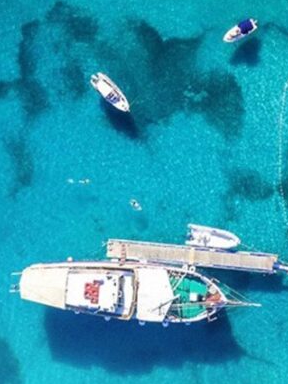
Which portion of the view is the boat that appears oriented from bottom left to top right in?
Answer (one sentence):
The boat that appears oriented from bottom left to top right is located in the top right region of the scene.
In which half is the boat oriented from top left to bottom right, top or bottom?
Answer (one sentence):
Seen from above, the boat oriented from top left to bottom right lies in the top half of the view.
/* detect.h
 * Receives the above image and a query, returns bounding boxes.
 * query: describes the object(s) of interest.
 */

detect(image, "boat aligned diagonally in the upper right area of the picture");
[223,14,259,41]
